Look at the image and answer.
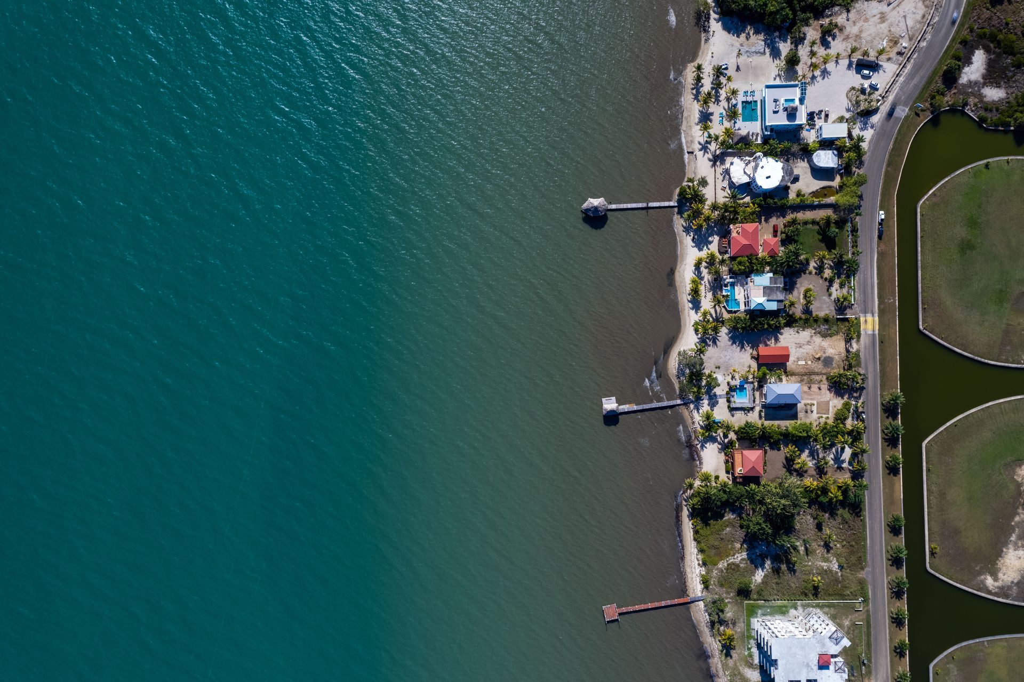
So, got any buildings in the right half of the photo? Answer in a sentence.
Yes, a building shows up in the right half of the photo.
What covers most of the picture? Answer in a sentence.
The largest share of the image is taken up by water.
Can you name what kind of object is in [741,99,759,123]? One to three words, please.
swimming pool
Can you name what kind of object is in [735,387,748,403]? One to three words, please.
swimming pool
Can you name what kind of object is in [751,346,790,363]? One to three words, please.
shed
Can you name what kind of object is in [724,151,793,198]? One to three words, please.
house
